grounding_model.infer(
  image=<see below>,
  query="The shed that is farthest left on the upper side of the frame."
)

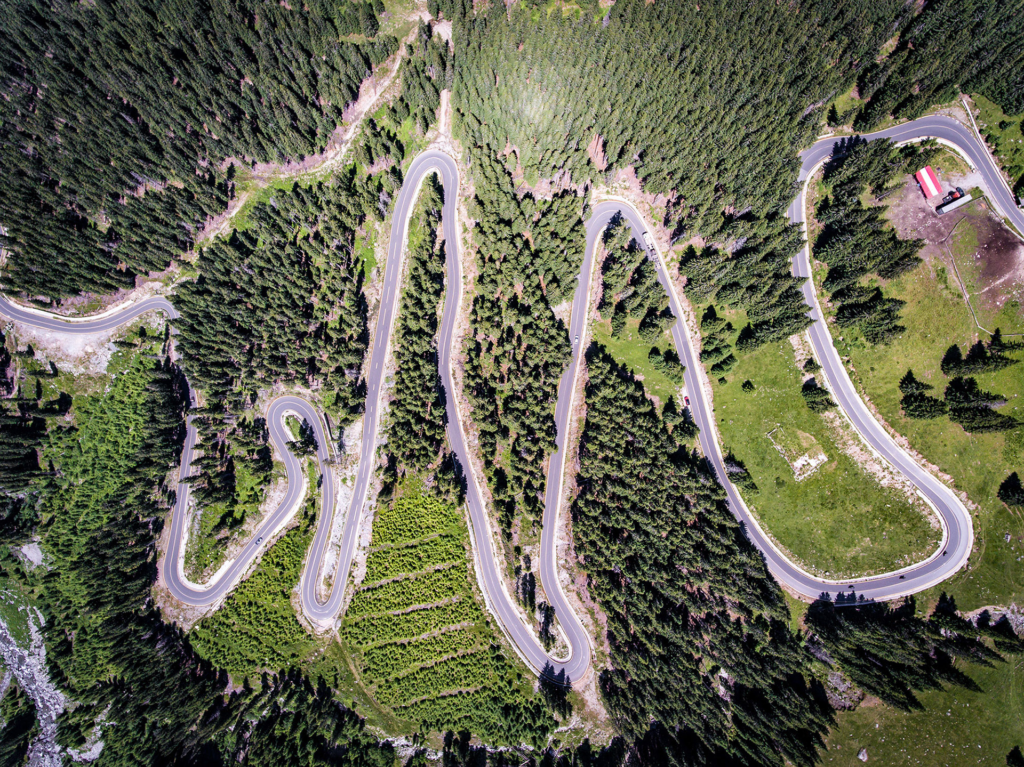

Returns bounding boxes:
[911,166,942,199]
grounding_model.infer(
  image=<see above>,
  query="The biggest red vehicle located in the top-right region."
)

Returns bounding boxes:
[940,191,960,205]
